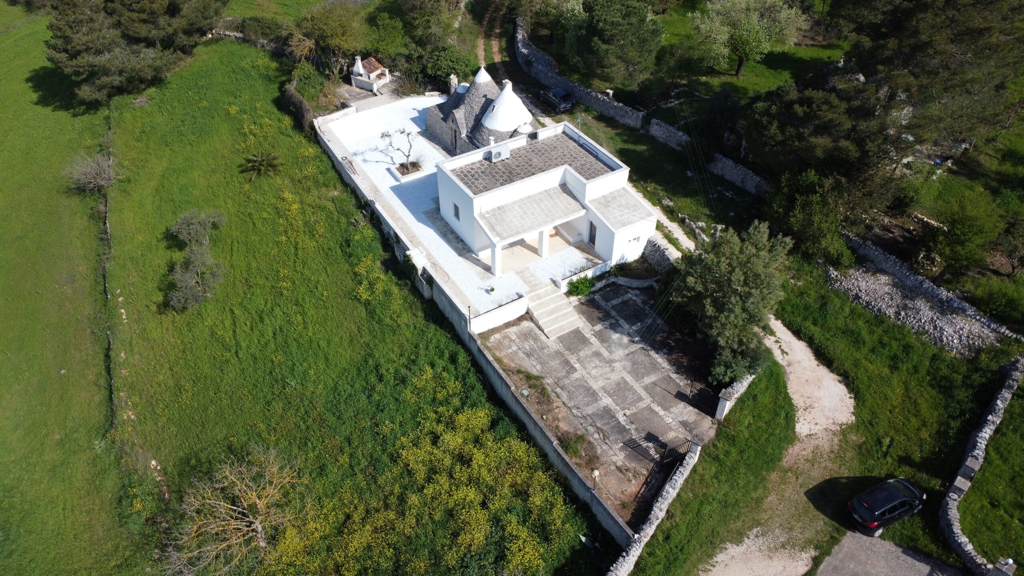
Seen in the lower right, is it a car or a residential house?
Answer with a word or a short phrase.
car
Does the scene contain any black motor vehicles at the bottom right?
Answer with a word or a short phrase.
Yes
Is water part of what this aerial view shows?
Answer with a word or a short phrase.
No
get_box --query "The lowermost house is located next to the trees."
[437,122,660,276]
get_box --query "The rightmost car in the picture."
[844,472,929,536]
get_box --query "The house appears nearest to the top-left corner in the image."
[350,45,400,92]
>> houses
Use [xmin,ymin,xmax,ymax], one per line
[350,45,400,92]
[437,122,660,276]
